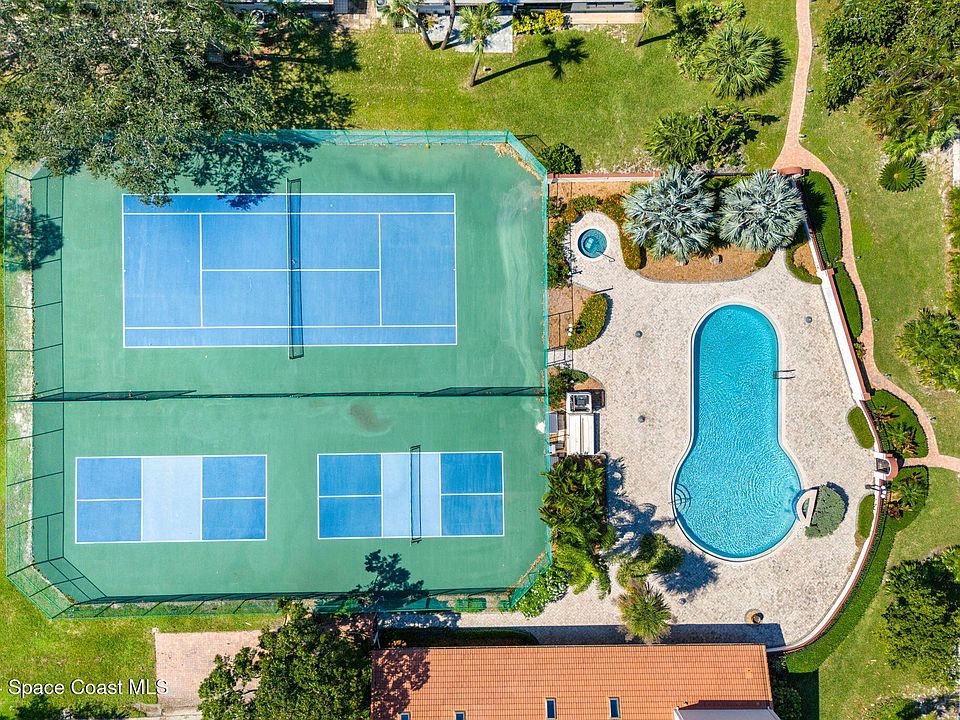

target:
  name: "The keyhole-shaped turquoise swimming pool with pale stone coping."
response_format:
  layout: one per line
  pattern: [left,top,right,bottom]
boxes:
[668,301,804,564]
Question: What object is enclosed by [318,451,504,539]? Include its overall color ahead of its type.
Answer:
blue sports court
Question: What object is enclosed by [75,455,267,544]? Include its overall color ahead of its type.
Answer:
blue sports court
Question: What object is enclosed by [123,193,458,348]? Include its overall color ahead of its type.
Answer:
blue tennis court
